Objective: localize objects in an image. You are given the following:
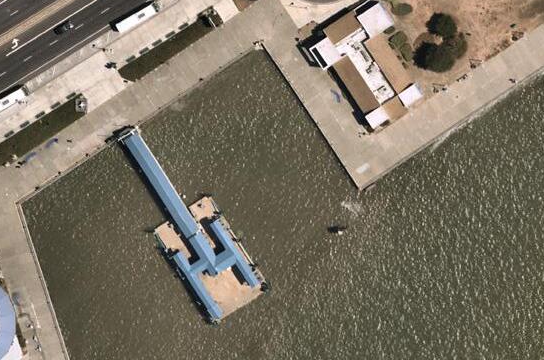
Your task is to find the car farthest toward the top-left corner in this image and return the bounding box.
[54,20,73,34]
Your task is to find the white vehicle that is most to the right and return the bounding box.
[115,0,160,33]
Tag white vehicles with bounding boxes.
[115,0,160,33]
[0,84,29,111]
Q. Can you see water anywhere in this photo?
Yes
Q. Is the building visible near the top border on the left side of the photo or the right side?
right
